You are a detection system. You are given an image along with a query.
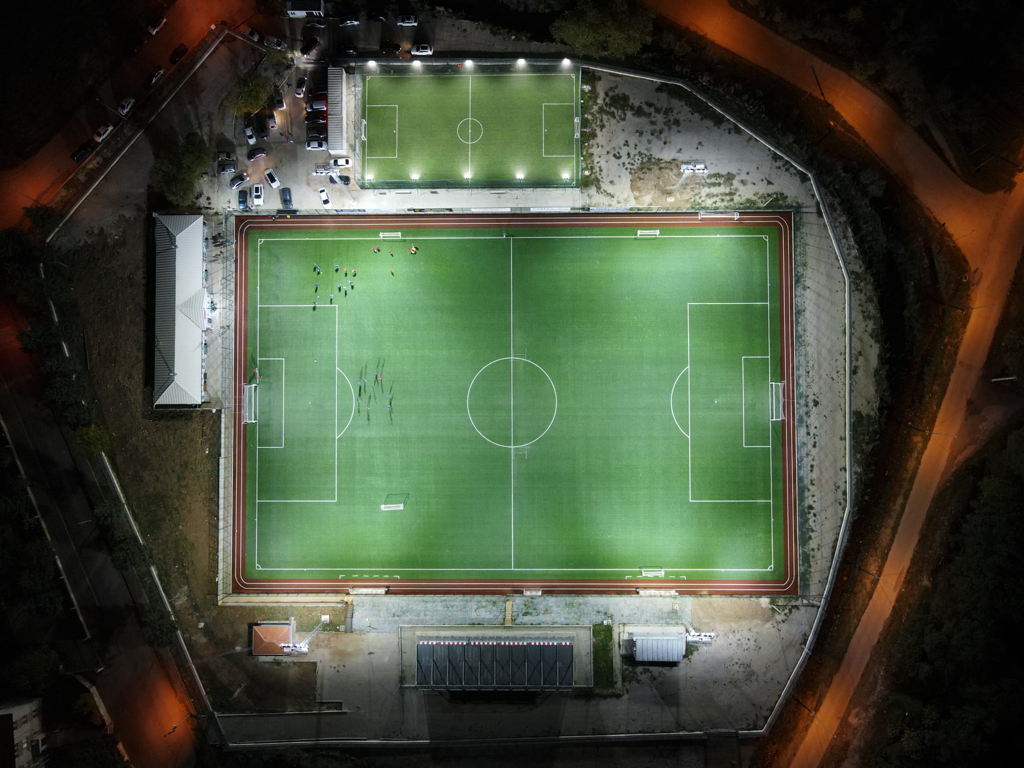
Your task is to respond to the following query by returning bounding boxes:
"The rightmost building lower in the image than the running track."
[252,617,316,662]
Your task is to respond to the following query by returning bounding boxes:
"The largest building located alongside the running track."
[149,214,212,405]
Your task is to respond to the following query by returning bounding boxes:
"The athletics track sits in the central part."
[231,210,800,596]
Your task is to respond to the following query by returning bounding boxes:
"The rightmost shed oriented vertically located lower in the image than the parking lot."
[327,68,347,155]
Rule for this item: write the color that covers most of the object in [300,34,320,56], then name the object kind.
black car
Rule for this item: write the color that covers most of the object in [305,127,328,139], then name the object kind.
black vehicle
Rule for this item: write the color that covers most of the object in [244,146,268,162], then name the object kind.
black car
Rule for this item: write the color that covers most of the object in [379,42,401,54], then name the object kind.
black vehicle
